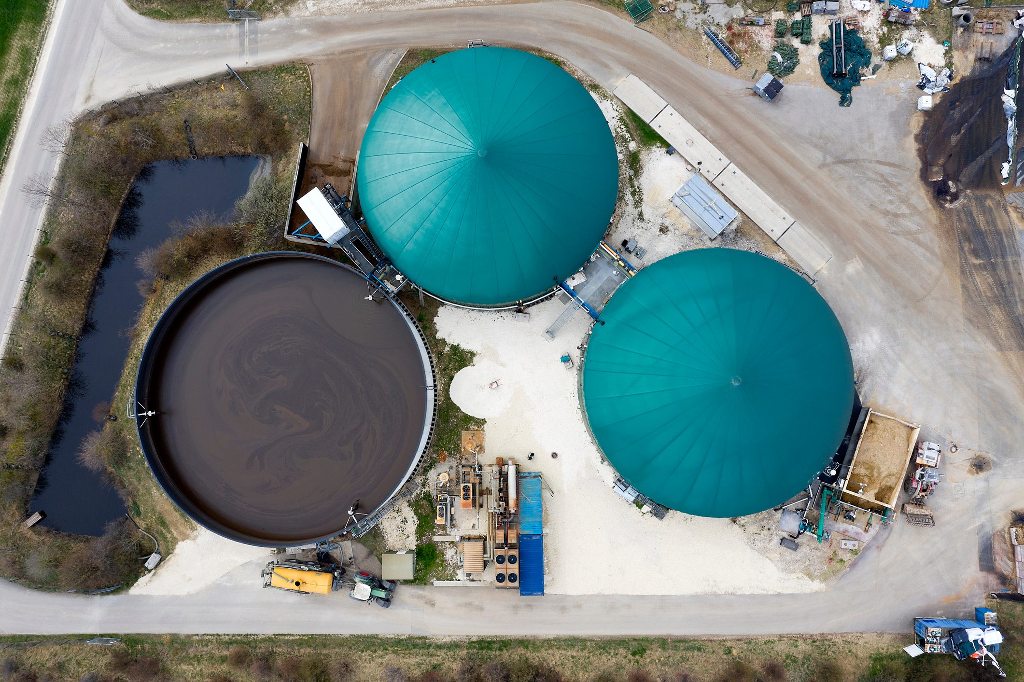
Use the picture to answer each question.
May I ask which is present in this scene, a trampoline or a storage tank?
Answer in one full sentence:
The one in the frame is a storage tank.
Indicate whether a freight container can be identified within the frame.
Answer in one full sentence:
Yes, looking at the shot, I can spot a freight container.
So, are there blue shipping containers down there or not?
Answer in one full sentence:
Yes, I can see a blue shipping container in this picture.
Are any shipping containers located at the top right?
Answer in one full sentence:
No, no shipping container appears at the top right.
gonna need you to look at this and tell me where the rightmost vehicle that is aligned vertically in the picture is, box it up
[902,439,946,522]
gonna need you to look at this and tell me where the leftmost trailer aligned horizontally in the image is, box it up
[260,556,355,596]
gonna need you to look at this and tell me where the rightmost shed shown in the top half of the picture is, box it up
[671,173,738,237]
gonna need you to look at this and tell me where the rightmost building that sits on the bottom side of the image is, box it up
[457,536,489,573]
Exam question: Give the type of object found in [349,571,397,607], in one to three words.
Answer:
work vehicle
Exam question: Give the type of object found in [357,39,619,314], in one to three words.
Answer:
storage tank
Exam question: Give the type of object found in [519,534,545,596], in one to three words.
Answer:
shipping container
